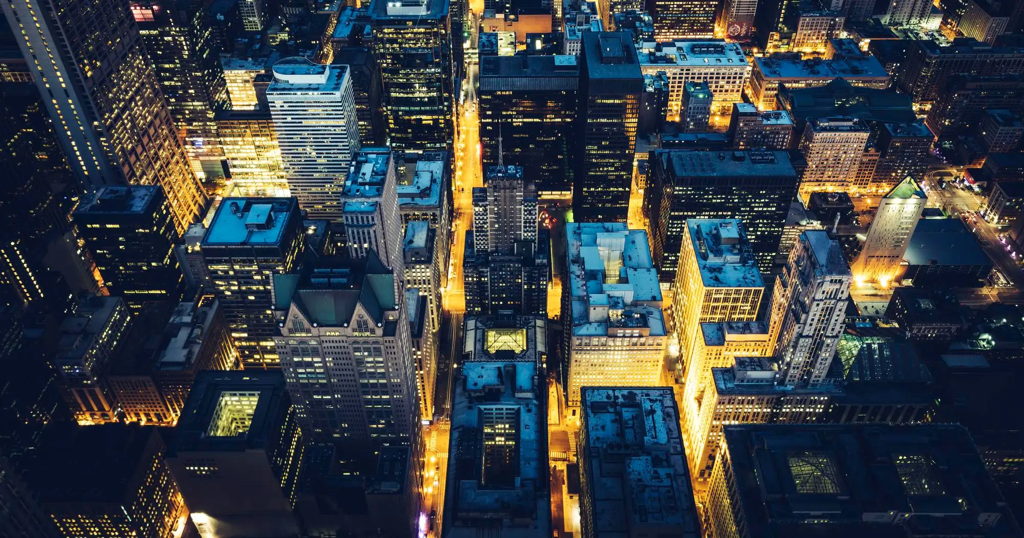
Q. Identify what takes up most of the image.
buildings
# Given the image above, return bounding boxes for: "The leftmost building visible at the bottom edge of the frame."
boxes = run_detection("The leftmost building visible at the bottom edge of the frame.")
[0,425,194,538]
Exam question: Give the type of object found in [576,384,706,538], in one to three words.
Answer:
building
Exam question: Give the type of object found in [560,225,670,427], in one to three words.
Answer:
building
